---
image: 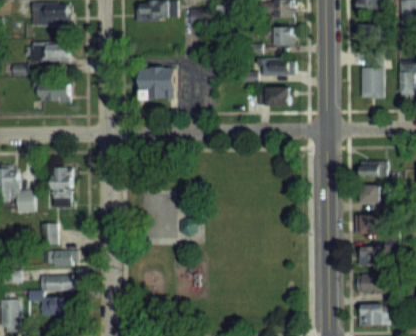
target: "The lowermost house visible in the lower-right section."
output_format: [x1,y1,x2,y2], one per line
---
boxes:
[356,304,390,327]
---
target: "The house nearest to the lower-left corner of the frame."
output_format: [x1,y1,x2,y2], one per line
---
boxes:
[0,299,22,333]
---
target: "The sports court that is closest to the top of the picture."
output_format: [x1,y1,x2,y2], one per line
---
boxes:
[144,190,204,244]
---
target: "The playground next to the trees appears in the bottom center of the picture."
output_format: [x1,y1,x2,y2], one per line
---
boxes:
[175,259,207,300]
